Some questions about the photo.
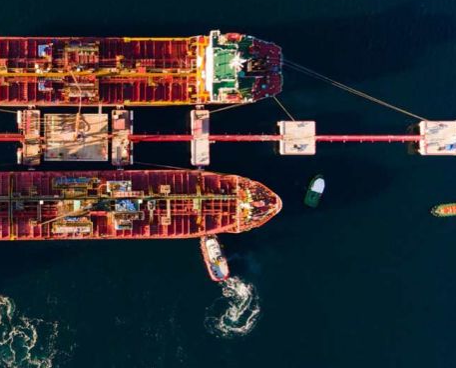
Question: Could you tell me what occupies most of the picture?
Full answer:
For the most part, this view shows water.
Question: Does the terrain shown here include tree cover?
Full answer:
No, the picture contains no tree cover.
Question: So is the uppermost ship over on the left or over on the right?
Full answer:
The uppermost ship appears in the left half of the scene.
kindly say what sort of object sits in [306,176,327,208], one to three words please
boat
